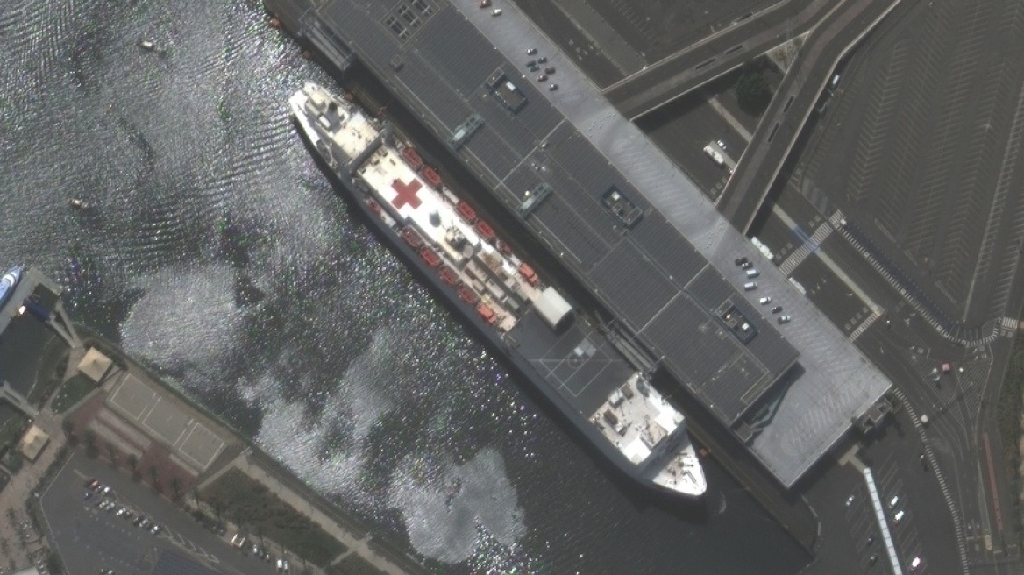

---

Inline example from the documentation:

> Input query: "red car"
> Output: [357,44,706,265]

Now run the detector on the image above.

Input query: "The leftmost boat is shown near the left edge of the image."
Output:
[0,267,21,308]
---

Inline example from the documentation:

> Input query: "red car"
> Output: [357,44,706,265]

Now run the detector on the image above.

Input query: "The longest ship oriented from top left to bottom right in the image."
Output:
[286,55,736,496]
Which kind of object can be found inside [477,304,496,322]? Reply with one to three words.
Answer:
boat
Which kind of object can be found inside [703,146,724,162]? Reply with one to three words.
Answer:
vehicle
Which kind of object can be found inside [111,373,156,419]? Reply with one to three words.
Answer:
sports court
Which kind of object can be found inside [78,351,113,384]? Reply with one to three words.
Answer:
tent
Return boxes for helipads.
[529,325,627,396]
